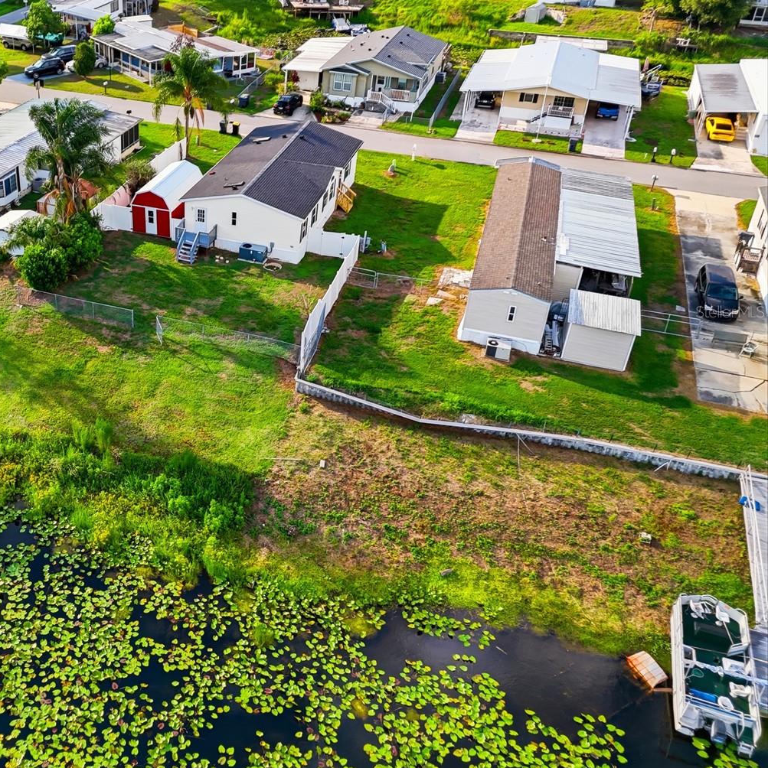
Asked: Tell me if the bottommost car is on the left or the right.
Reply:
right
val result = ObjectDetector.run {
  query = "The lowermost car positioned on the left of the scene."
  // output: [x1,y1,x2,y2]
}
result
[274,92,306,117]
